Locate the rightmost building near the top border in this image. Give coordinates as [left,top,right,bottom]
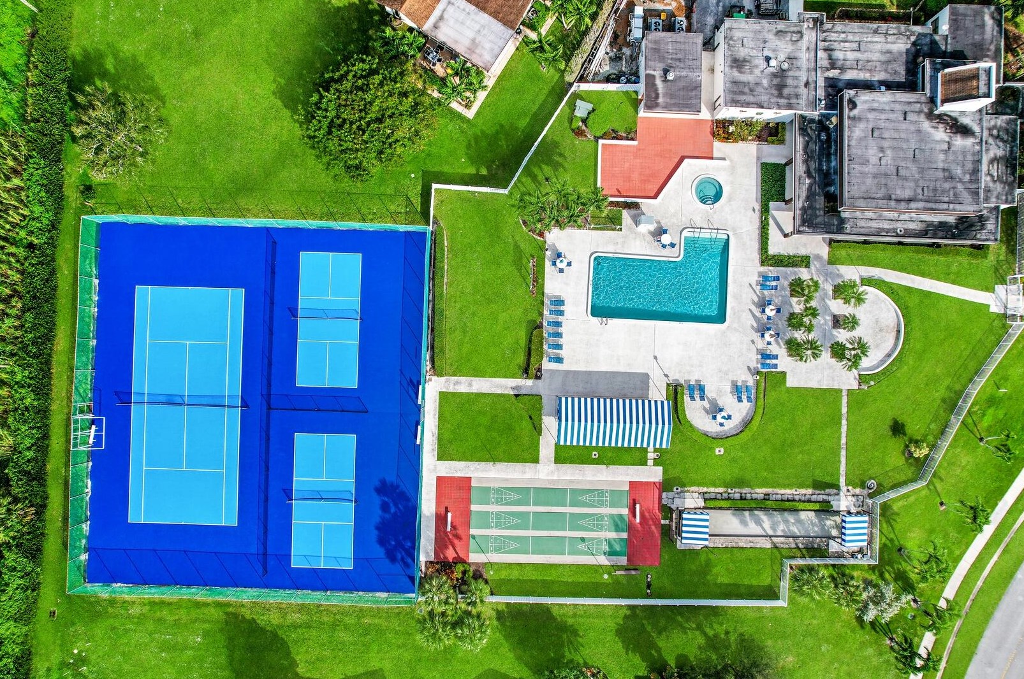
[714,4,1024,243]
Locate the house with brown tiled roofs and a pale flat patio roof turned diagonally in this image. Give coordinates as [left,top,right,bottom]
[376,0,545,75]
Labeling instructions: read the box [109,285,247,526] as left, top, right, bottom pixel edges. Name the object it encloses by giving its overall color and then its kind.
blue tennis court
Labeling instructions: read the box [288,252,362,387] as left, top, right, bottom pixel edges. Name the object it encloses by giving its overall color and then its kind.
blue sports court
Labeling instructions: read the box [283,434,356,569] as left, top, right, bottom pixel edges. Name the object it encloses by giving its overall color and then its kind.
blue sports court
